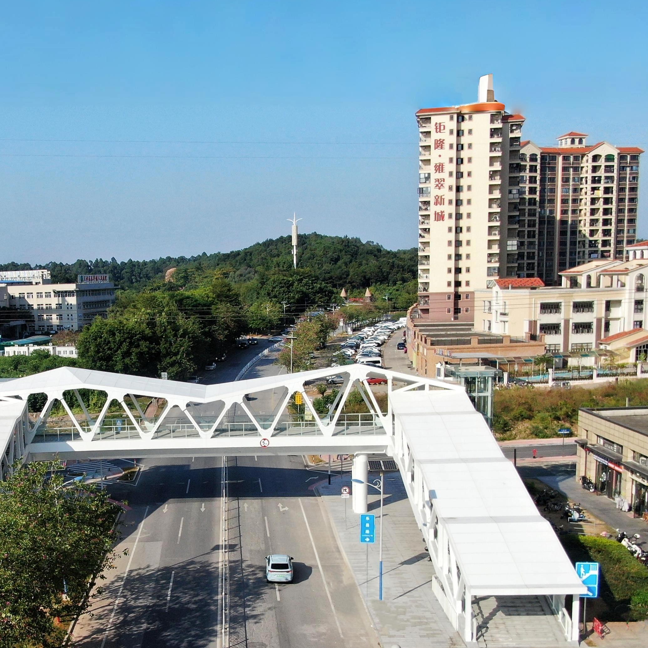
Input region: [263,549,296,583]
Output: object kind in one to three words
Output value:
car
